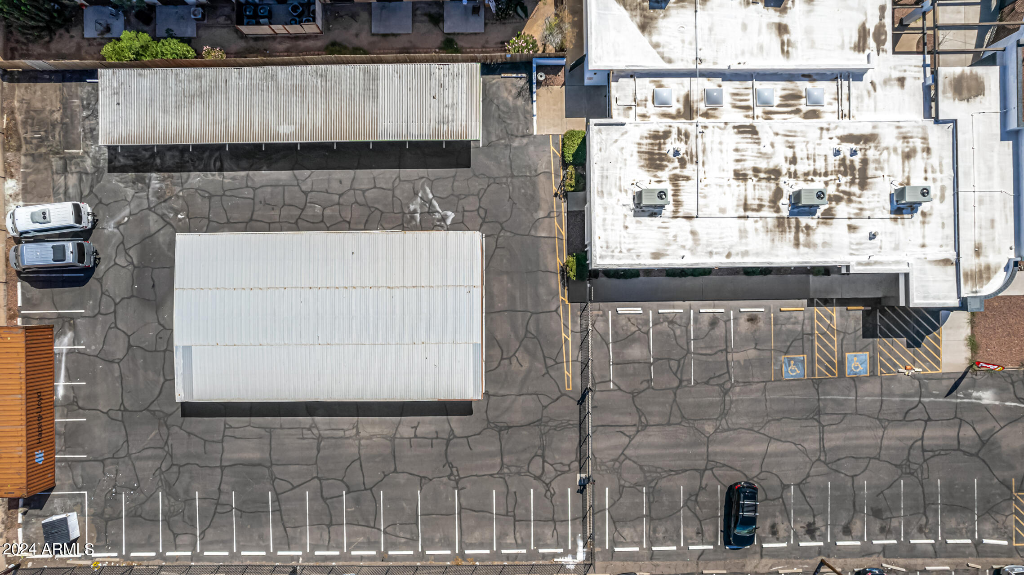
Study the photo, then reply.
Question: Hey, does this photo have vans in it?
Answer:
Yes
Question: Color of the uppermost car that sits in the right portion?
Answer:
black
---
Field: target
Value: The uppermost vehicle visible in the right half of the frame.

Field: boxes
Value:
[726,480,763,546]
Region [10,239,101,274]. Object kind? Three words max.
van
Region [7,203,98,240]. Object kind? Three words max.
van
